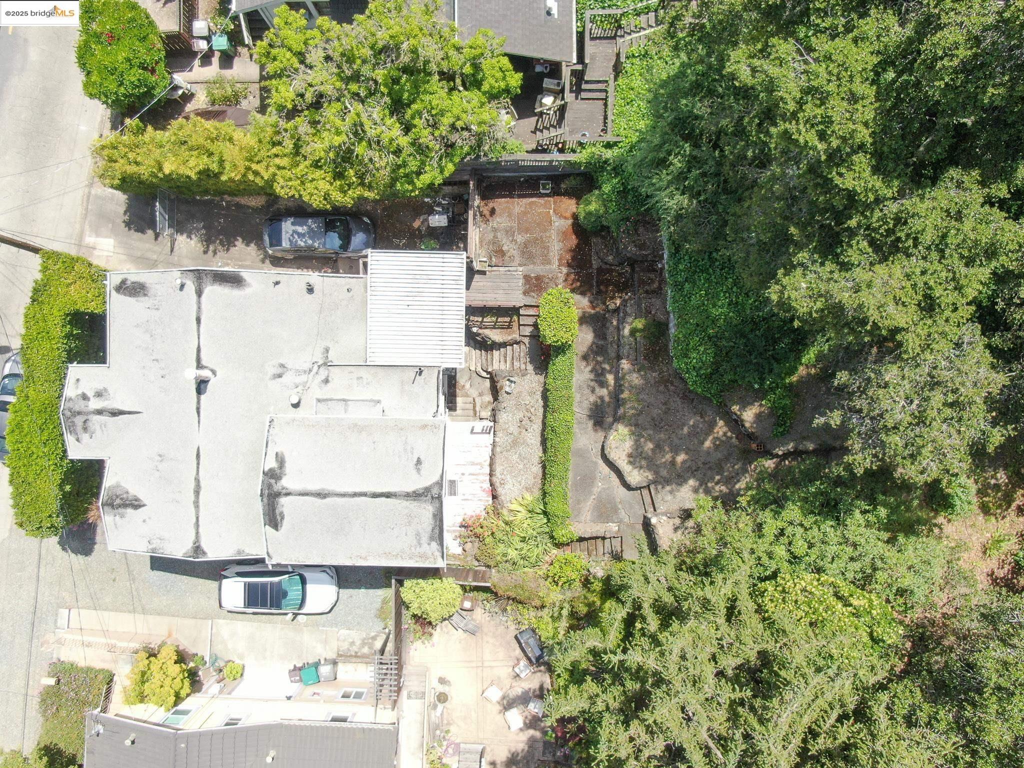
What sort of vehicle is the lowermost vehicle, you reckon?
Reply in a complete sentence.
The lowermost vehicle appears to be an automobile.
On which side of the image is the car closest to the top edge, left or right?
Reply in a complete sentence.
The car closest to the top edge appears in the left half of the scene.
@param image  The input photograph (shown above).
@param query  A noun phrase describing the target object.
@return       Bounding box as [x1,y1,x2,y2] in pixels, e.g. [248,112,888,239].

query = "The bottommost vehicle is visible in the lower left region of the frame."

[219,560,340,621]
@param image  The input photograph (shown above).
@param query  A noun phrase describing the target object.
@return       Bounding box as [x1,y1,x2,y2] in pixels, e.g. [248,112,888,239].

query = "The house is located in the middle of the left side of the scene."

[59,250,468,573]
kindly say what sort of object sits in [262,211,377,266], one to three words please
car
